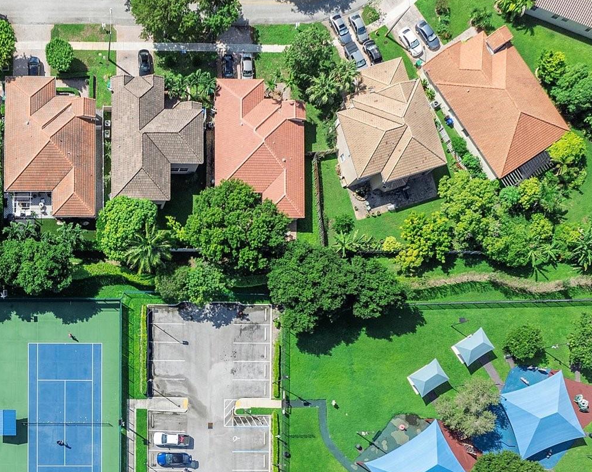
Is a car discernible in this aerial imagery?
Yes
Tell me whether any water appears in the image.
No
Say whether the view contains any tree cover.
Yes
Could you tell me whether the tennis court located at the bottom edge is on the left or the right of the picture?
left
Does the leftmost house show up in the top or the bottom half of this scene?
top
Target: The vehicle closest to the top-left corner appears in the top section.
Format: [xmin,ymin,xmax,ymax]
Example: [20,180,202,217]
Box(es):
[27,54,40,76]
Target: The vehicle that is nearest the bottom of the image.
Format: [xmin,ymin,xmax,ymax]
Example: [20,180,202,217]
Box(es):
[158,453,195,467]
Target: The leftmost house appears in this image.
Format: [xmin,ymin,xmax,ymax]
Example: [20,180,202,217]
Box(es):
[5,76,96,219]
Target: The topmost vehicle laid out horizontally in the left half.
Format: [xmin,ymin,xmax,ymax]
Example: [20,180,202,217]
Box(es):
[152,432,191,448]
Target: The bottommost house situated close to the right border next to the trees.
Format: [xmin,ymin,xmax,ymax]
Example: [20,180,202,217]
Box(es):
[419,26,571,181]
